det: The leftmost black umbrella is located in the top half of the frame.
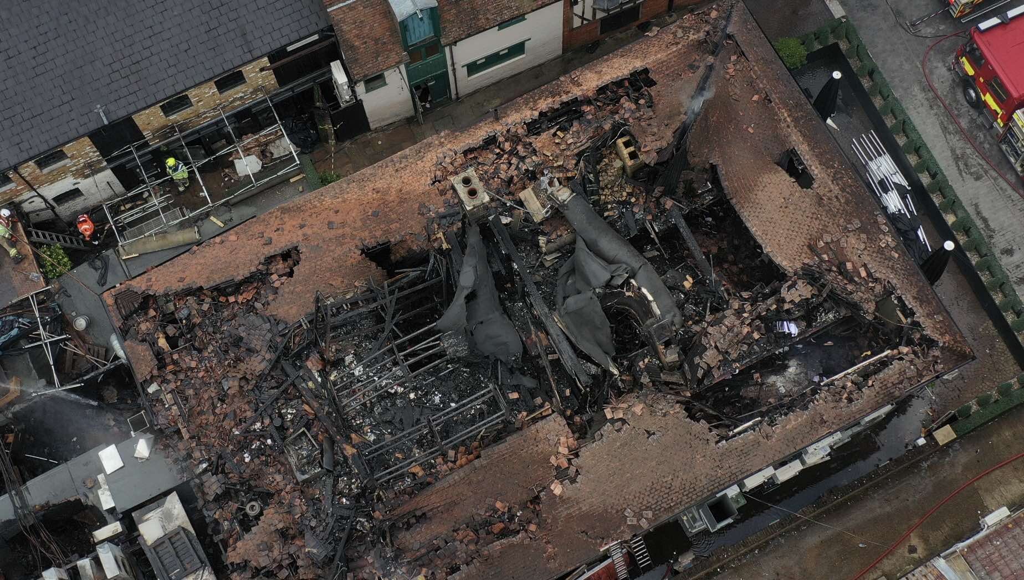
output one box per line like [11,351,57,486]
[811,70,841,123]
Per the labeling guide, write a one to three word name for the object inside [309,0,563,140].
building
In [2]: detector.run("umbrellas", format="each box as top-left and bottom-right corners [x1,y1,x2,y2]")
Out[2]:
[925,241,953,285]
[811,70,841,123]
